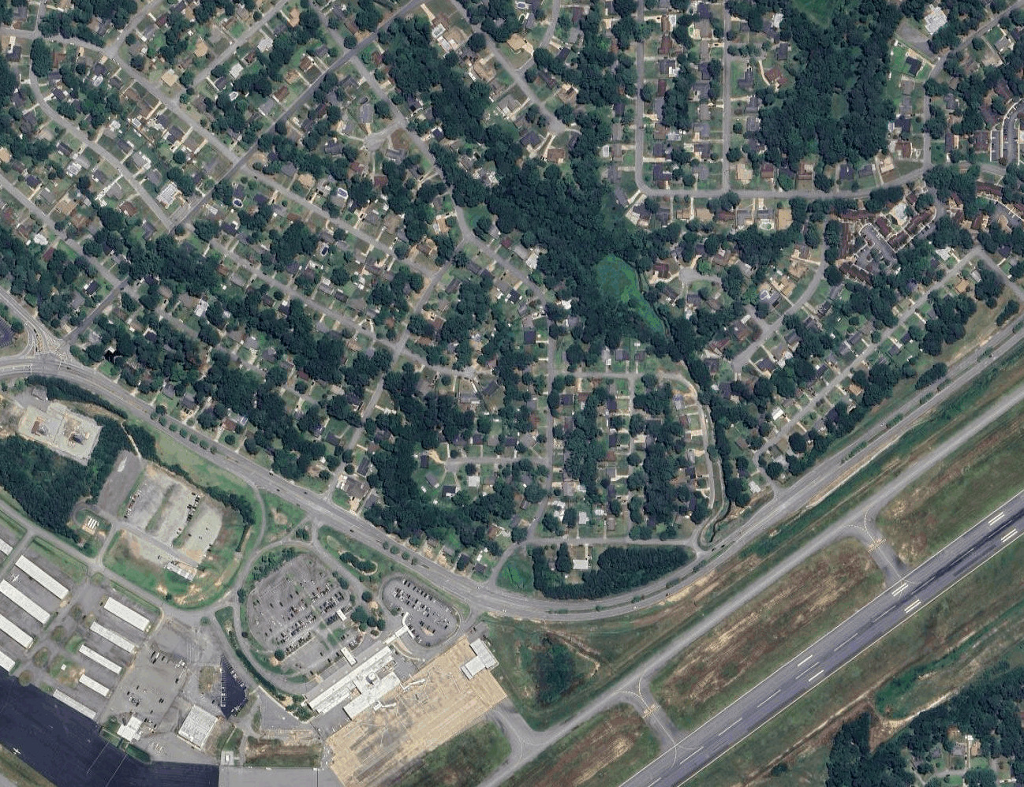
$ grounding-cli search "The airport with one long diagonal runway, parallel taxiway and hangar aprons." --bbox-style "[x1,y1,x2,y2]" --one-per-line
[0,384,1024,787]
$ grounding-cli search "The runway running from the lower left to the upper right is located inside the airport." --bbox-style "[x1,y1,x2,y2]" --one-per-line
[617,487,1024,787]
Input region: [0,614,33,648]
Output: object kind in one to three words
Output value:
hangar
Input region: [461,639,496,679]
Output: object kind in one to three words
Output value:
building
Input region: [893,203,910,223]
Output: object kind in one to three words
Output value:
swimming pool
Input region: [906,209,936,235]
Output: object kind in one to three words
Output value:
building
